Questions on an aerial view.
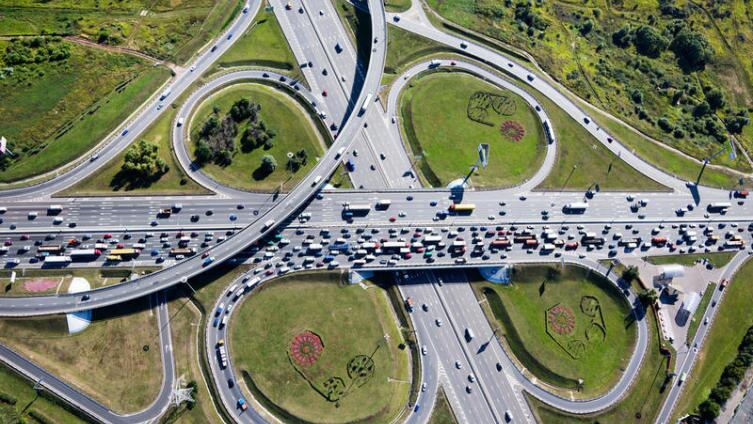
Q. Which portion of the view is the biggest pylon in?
bottom left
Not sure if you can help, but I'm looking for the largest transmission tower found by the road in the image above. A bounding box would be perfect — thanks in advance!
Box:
[176,373,199,411]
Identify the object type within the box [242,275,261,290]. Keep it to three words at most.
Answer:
vehicle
